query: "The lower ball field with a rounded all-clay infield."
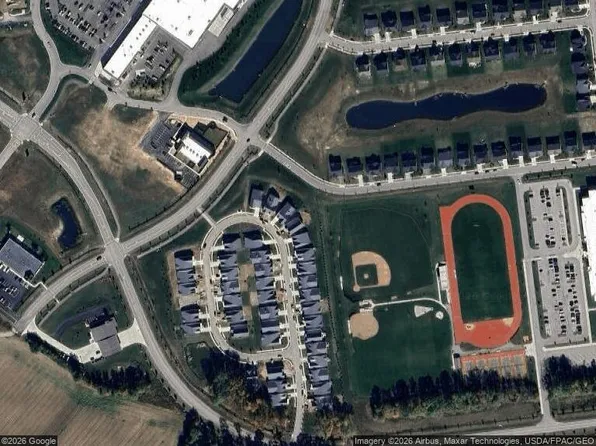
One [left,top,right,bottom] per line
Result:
[346,310,452,388]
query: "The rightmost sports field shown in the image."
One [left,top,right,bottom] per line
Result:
[451,203,513,323]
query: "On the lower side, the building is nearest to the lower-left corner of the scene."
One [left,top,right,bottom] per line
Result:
[89,318,122,353]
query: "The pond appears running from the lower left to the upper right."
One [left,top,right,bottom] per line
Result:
[210,0,304,104]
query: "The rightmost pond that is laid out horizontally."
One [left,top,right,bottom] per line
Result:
[346,83,547,130]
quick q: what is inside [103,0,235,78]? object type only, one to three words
building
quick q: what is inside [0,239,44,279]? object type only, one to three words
building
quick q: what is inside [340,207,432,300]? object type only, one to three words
baseball field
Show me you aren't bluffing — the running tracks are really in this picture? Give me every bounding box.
[439,194,521,347]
